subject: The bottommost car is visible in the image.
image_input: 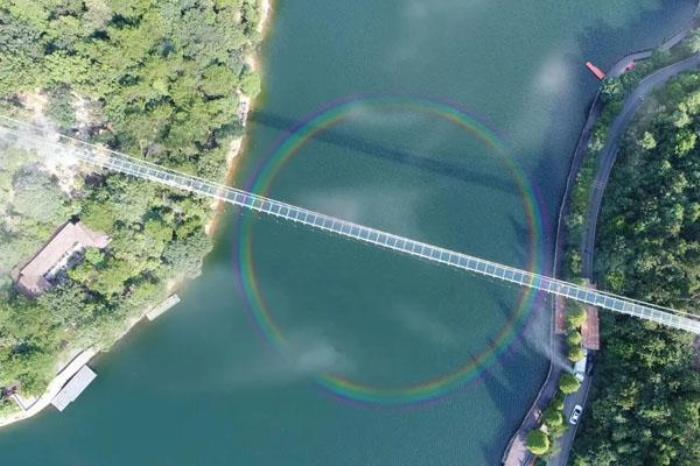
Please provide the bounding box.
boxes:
[571,405,584,426]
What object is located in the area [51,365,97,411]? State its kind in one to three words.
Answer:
pier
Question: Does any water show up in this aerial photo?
Yes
